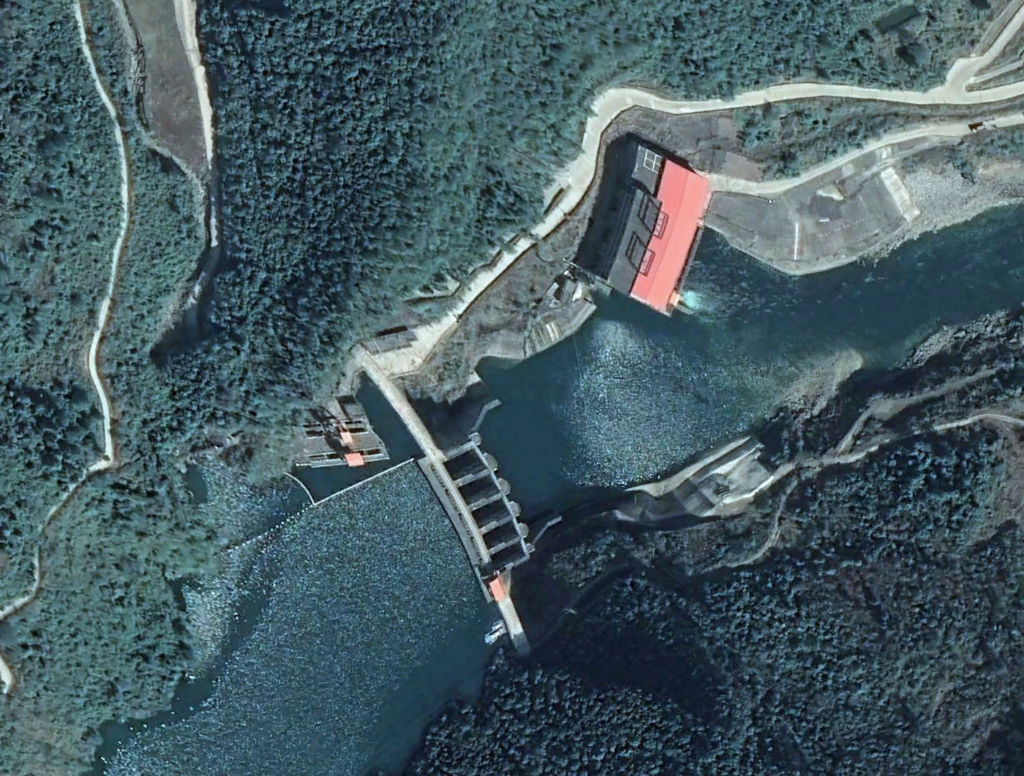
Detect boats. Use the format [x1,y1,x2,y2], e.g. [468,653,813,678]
[484,627,504,641]
[491,618,504,628]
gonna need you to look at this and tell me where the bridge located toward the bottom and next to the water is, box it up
[428,457,490,562]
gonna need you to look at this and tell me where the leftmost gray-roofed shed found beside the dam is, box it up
[362,331,418,355]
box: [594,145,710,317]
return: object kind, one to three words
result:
building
